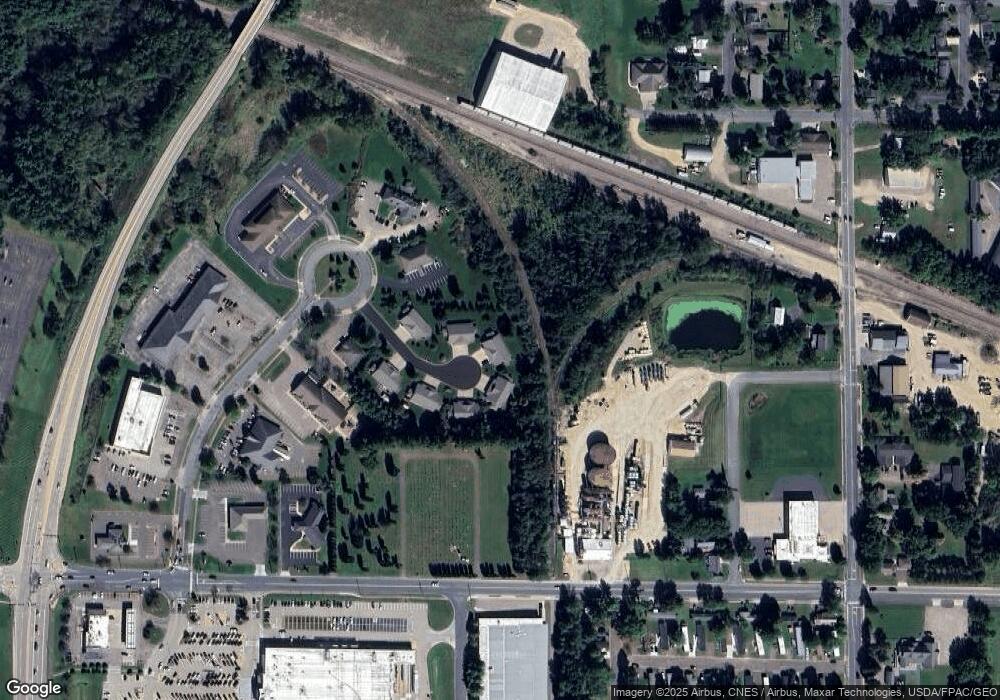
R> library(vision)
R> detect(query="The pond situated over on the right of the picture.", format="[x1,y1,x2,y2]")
[659,292,748,356]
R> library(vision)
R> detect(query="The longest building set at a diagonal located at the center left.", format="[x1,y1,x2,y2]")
[137,262,233,359]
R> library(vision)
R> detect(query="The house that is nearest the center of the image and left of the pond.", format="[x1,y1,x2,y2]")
[480,332,514,367]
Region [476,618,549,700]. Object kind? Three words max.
building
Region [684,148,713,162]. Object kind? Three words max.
shed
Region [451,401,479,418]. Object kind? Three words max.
house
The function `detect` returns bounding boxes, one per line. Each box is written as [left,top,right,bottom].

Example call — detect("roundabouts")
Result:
[298,234,379,315]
